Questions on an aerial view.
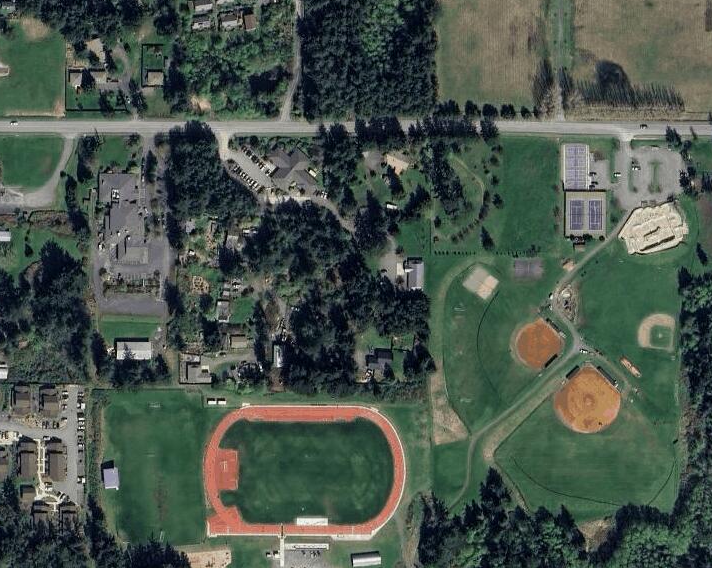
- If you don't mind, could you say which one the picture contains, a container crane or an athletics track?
athletics track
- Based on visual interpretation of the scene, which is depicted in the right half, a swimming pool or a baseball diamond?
baseball diamond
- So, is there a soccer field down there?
Yes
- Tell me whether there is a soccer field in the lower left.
Yes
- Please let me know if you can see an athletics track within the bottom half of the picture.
Yes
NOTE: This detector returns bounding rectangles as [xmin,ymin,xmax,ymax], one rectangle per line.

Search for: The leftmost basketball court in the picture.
[515,259,542,278]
